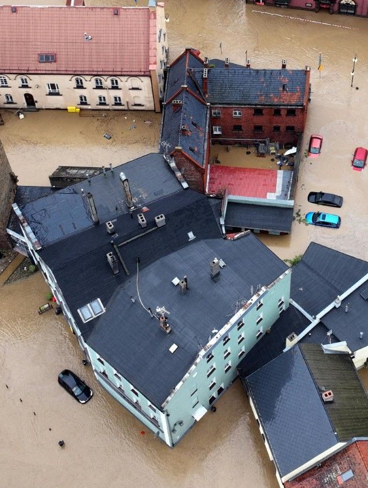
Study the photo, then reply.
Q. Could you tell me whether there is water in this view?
Yes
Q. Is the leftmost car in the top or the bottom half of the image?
bottom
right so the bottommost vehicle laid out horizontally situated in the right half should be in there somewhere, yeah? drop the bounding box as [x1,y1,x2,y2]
[305,210,341,227]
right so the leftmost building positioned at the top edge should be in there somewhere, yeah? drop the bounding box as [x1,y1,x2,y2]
[0,0,168,115]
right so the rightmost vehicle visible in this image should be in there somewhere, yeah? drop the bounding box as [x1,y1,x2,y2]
[351,145,368,171]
